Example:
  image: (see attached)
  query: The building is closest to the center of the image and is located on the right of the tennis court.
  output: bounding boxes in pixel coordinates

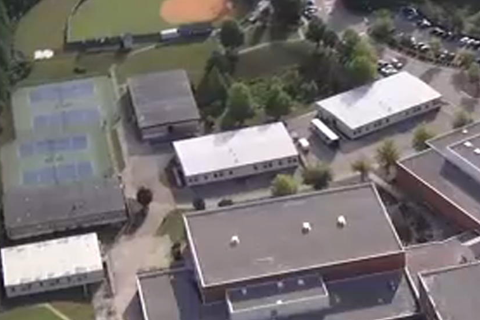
[175,123,298,187]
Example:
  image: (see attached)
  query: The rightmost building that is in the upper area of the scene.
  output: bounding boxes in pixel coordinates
[316,71,441,139]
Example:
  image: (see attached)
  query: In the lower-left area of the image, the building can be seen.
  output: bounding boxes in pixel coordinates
[1,232,104,296]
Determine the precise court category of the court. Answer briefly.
tennis court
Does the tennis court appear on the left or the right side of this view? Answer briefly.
left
